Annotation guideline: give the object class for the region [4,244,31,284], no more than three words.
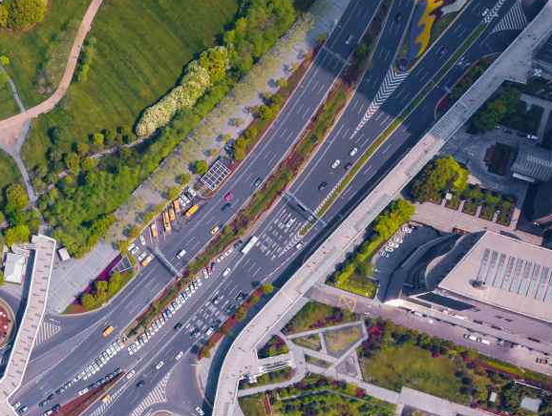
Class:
building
